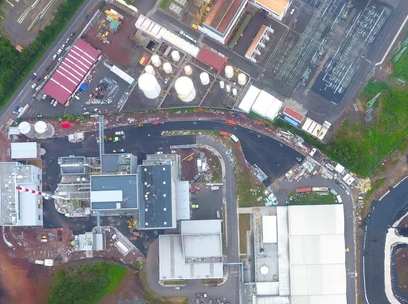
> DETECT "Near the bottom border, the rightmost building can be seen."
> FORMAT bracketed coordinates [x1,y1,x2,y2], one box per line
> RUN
[288,205,347,304]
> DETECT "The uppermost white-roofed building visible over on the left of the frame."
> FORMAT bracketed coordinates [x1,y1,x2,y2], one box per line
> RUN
[135,15,163,42]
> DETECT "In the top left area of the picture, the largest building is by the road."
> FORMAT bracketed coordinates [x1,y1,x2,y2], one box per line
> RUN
[43,38,103,108]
